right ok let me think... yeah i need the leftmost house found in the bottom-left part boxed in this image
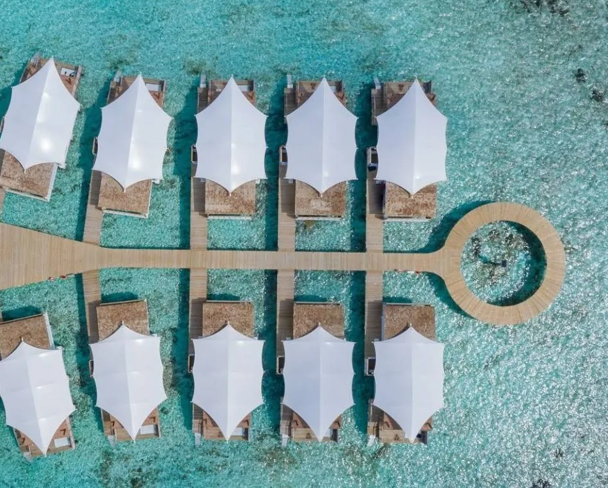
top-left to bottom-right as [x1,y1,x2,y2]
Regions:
[0,309,78,459]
